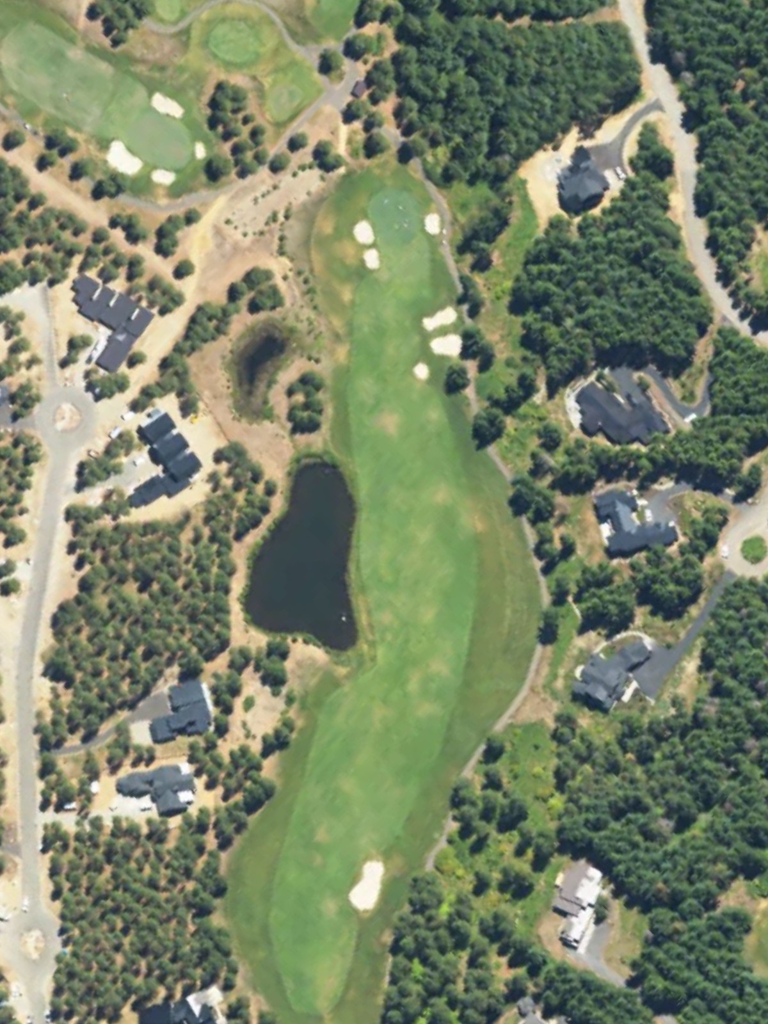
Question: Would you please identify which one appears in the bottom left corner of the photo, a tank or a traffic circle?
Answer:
traffic circle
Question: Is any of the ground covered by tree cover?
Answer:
Yes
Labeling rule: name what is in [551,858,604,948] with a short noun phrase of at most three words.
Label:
house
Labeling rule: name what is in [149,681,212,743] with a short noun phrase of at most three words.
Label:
house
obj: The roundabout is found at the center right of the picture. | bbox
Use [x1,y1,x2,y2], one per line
[721,518,768,579]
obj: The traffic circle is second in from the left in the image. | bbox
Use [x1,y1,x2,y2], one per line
[36,386,100,447]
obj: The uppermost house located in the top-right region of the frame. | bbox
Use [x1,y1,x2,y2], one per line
[555,143,612,216]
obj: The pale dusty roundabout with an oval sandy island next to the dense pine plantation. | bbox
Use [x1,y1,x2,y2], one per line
[1,908,63,981]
